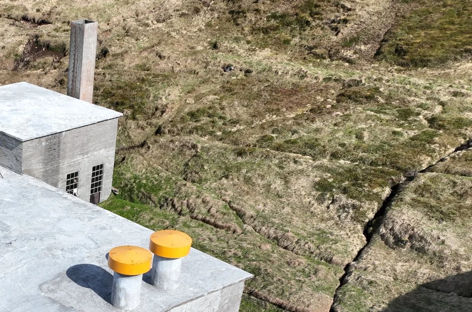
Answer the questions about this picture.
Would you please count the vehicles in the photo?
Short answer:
zero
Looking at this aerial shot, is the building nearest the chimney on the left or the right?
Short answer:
left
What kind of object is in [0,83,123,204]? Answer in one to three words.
building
